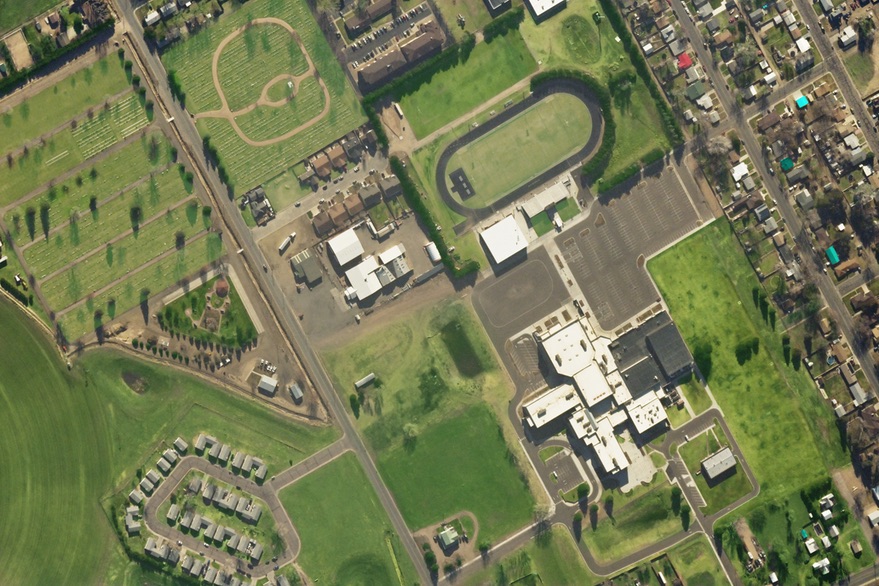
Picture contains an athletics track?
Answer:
Yes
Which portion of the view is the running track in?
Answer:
top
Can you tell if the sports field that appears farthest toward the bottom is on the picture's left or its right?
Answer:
right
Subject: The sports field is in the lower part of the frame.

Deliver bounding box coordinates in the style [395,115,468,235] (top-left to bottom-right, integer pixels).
[646,219,838,500]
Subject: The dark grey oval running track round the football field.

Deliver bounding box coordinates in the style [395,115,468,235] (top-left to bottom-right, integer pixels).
[436,85,601,216]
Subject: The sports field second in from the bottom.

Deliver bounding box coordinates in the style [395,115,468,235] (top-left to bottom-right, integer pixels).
[446,94,591,207]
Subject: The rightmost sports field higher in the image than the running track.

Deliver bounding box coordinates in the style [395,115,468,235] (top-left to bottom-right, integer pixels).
[563,16,601,63]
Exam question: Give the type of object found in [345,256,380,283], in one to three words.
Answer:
building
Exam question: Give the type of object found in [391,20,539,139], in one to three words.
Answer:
sports field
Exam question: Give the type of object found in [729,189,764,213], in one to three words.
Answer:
house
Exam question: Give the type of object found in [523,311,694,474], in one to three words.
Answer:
building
